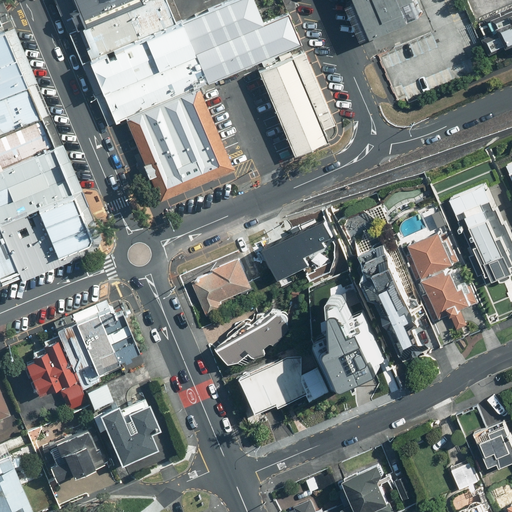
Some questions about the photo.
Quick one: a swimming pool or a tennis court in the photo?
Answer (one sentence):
Of the two, only a swimming pool appears.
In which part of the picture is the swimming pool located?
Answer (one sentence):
The swimming pool sits in the right section of the image.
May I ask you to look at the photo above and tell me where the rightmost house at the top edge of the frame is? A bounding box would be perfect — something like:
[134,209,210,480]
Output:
[478,11,512,56]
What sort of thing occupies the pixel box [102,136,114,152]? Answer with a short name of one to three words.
vehicle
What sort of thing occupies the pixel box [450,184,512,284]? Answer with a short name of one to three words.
house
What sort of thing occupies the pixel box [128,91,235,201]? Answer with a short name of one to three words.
building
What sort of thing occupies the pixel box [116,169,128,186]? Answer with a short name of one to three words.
vehicle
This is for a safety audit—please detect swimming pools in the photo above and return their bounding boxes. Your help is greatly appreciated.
[400,214,426,238]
